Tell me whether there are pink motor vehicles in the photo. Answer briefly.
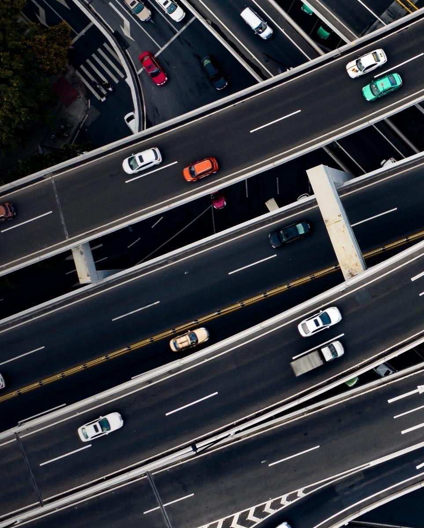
Yes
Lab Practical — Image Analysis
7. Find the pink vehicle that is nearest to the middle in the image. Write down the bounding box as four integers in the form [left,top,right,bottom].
[208,189,227,211]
